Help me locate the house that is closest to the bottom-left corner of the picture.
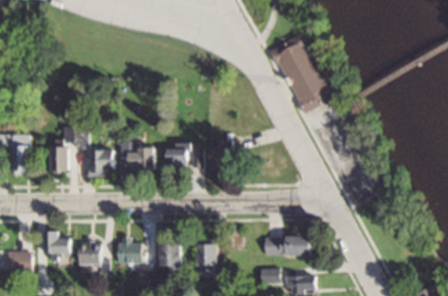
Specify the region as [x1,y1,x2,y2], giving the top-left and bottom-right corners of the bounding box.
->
[0,250,33,270]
